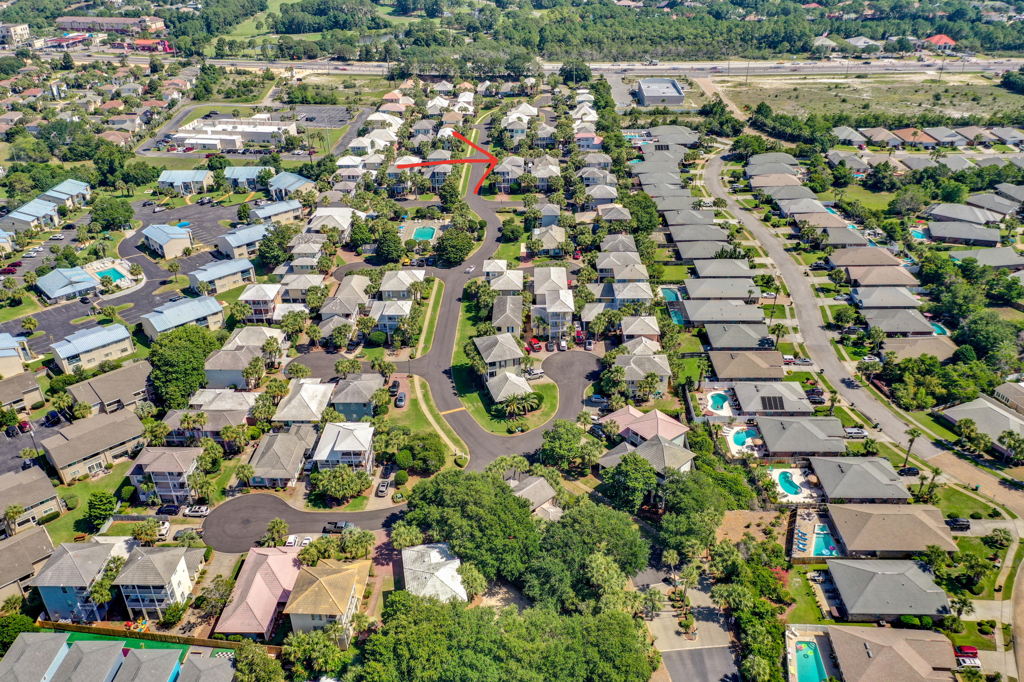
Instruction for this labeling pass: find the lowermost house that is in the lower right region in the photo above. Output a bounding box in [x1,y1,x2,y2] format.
[824,625,956,682]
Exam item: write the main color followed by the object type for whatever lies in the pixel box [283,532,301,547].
white car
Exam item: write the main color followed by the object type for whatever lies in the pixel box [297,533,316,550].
white car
